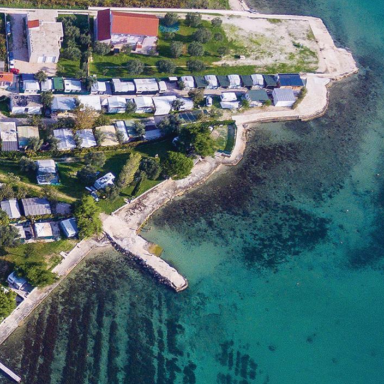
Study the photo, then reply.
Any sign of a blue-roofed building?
Yes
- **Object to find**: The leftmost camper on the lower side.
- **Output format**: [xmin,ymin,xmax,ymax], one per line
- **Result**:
[8,275,27,296]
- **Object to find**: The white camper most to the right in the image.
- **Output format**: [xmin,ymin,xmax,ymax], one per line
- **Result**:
[216,93,238,113]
